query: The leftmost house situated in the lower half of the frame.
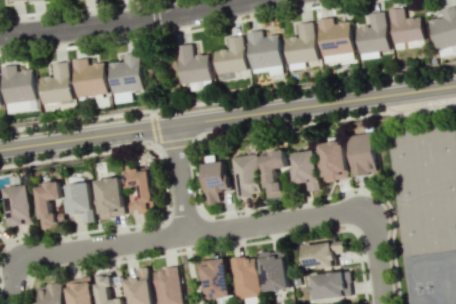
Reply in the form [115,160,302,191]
[0,186,33,228]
